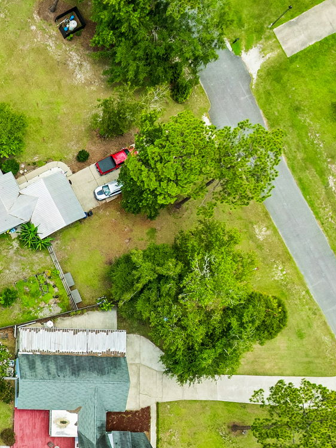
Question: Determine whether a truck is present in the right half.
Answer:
No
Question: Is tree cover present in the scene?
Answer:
Yes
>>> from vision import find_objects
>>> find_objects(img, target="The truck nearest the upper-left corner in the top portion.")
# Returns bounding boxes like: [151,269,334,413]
[94,145,129,174]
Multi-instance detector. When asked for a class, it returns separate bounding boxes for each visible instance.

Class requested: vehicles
[96,174,130,201]
[94,145,129,174]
